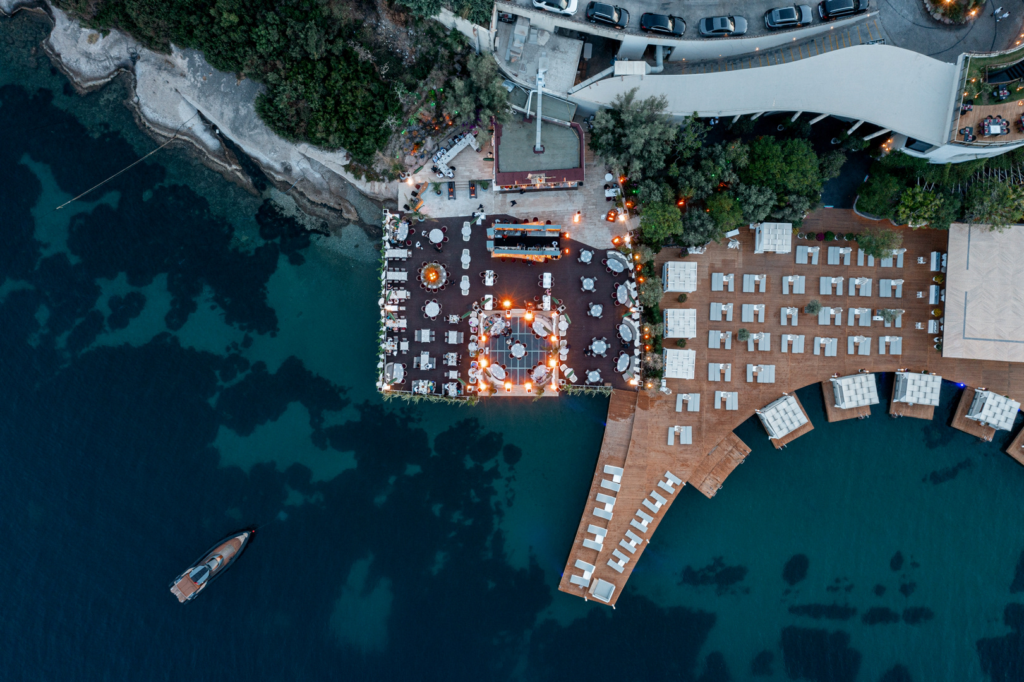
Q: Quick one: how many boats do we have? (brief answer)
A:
1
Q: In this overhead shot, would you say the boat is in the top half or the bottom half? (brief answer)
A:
bottom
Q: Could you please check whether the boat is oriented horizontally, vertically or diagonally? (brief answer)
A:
diagonally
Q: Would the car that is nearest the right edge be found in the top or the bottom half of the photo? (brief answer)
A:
top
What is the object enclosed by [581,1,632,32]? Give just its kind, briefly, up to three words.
car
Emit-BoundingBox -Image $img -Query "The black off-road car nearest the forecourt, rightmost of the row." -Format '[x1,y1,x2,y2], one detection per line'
[814,0,868,24]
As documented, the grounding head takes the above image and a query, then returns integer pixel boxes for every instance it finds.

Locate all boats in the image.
[164,531,253,604]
